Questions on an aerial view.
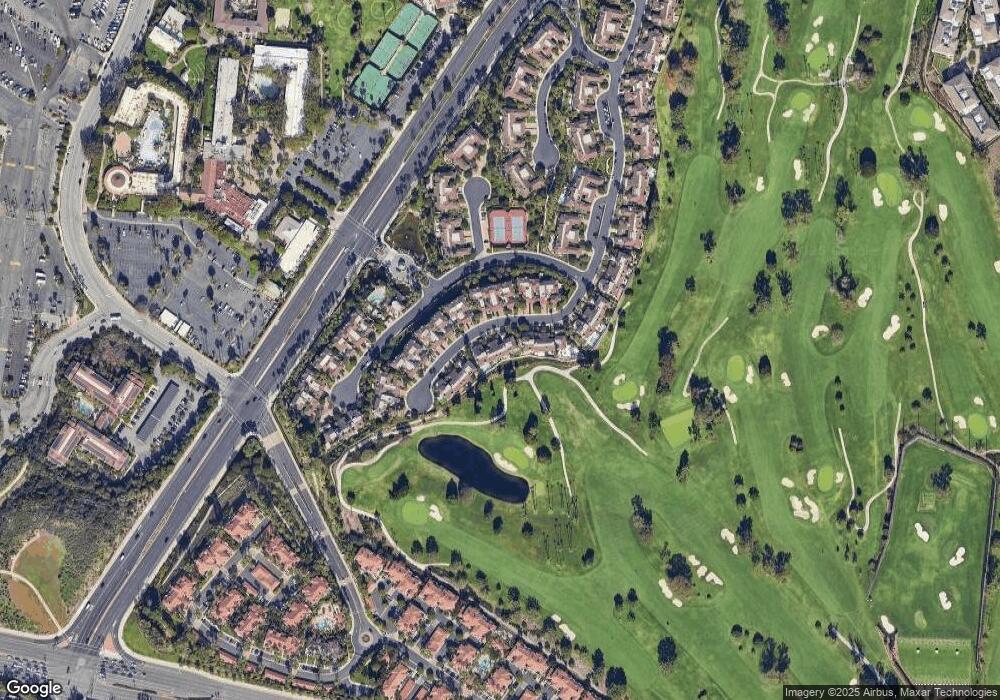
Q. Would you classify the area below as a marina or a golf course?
golf course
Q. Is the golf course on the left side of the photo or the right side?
right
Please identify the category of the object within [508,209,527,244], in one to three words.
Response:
tennis court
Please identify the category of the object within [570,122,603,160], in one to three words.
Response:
house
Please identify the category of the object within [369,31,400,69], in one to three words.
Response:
tennis court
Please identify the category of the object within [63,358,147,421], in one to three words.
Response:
building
